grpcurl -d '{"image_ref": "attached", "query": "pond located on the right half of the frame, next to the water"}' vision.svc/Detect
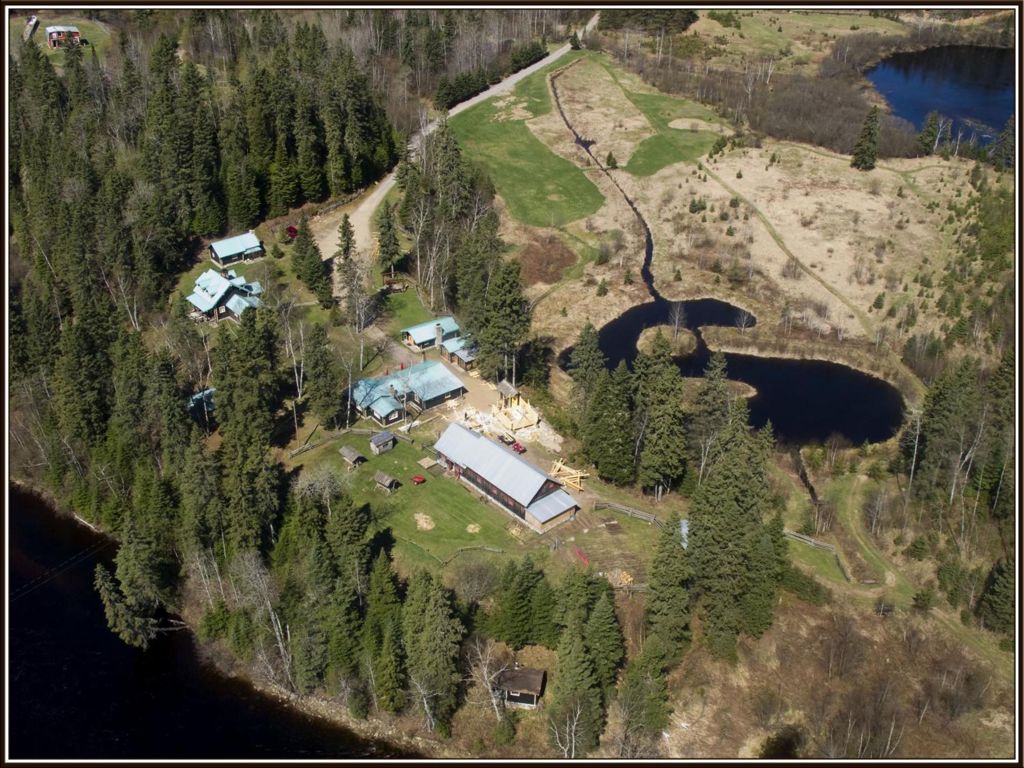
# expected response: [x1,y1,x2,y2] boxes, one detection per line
[558,286,907,461]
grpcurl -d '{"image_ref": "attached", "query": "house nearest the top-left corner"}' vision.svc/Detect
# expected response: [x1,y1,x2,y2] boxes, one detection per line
[46,24,83,49]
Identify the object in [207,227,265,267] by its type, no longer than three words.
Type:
building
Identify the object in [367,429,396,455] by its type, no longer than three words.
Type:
shed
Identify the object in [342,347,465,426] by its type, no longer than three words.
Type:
building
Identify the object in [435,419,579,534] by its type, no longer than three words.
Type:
barn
